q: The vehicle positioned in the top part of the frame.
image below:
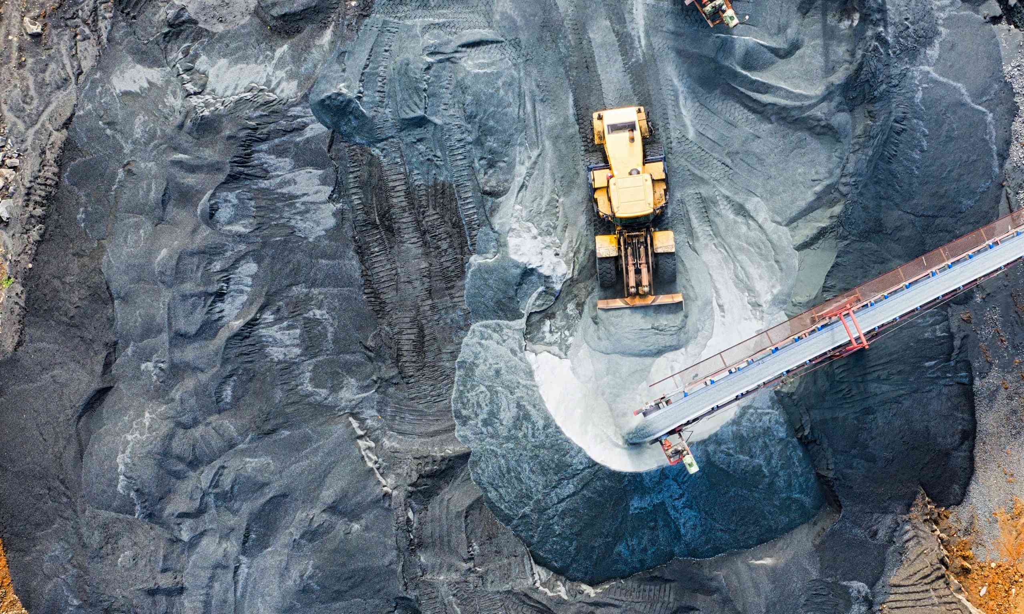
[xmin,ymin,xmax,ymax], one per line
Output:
[580,108,683,323]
